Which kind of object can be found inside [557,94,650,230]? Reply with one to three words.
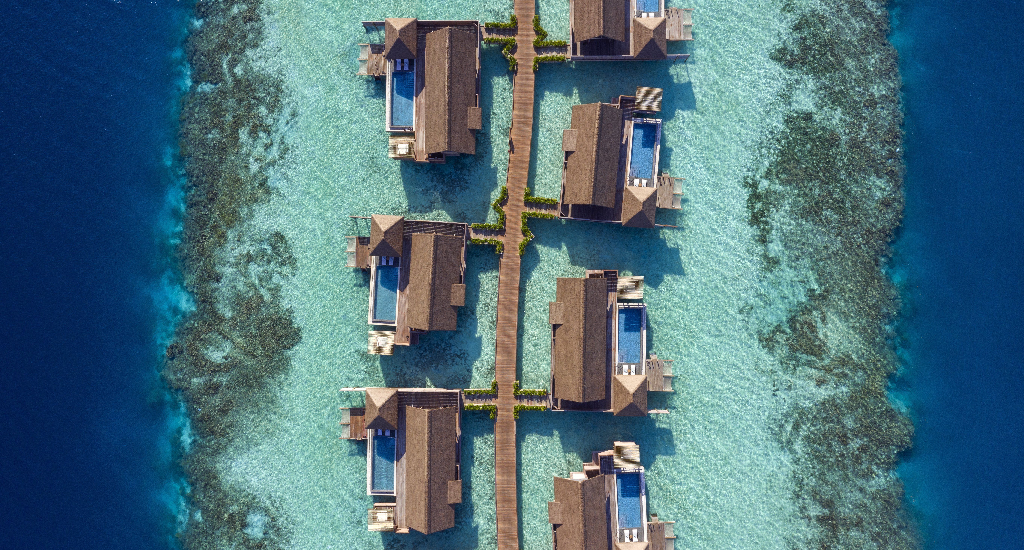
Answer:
house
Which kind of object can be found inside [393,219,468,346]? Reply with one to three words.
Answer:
house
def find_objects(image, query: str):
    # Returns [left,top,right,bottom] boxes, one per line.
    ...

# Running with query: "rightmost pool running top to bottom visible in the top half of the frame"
[626,119,662,188]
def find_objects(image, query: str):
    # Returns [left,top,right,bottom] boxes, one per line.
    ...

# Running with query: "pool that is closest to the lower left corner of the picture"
[366,429,396,495]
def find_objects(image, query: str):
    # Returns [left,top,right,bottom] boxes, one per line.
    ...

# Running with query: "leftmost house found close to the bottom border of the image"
[368,386,463,535]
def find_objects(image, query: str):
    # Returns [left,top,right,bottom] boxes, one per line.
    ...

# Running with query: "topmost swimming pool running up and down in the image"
[385,61,415,134]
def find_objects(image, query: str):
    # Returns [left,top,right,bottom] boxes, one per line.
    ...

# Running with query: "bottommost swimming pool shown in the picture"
[614,464,647,539]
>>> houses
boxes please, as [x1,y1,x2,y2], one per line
[368,386,463,535]
[387,25,483,164]
[549,268,619,411]
[548,446,645,550]
[557,94,650,230]
[393,219,468,346]
[569,0,663,63]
